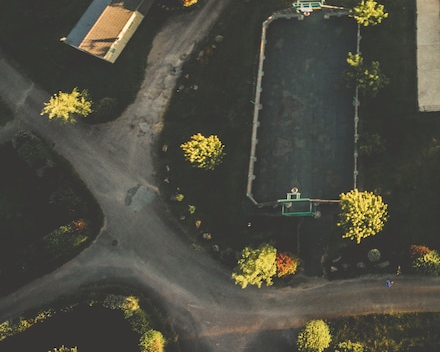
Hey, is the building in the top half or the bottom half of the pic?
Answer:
top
